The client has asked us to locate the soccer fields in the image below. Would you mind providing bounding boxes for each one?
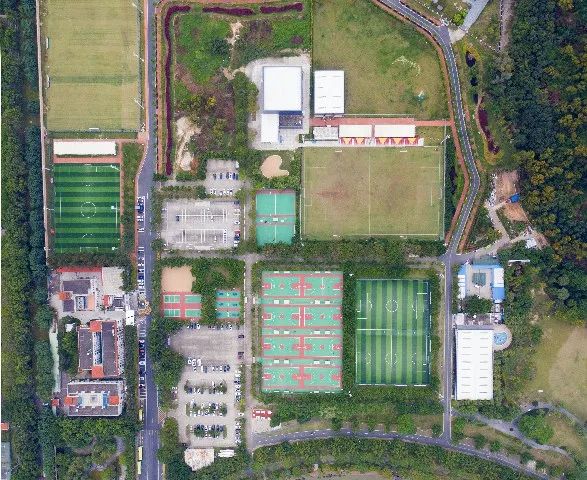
[302,146,444,240]
[48,0,137,131]
[54,163,120,253]
[355,280,431,386]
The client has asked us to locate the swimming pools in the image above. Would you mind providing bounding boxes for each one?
[494,325,512,350]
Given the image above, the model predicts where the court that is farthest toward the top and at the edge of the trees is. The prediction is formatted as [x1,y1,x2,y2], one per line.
[257,194,296,214]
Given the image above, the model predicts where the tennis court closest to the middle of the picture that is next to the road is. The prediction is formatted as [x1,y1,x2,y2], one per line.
[257,225,296,245]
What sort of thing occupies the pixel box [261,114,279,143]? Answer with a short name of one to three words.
building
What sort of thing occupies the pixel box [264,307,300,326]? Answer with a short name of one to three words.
basketball court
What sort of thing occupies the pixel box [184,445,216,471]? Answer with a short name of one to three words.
building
